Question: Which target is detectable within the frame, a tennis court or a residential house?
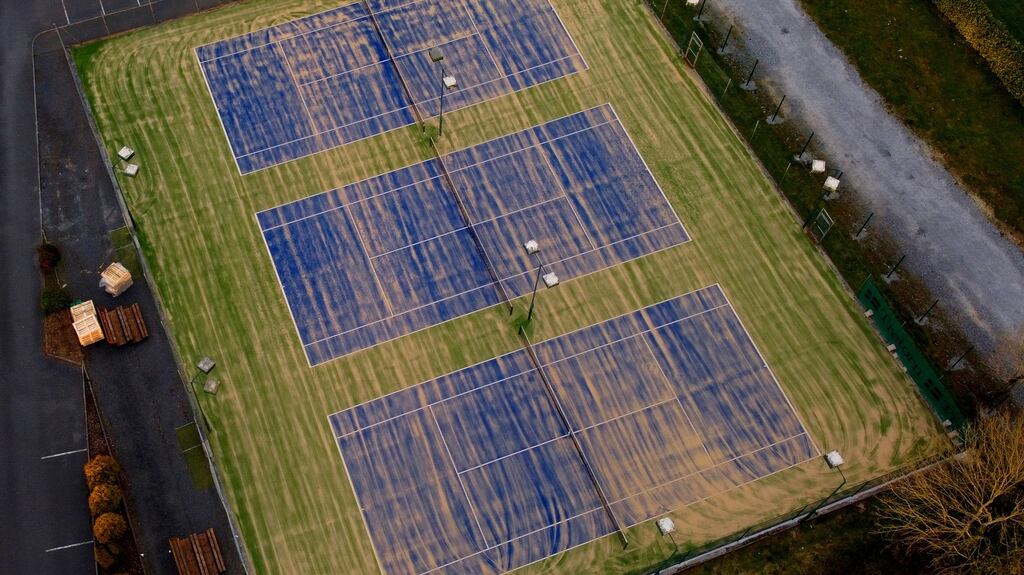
tennis court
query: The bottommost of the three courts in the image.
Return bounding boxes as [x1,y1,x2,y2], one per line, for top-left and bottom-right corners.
[329,283,819,575]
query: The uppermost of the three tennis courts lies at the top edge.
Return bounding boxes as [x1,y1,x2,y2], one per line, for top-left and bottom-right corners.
[197,0,587,174]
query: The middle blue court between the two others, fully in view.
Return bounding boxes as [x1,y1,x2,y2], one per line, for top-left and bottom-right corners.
[256,103,691,367]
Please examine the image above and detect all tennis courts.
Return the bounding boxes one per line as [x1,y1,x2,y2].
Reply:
[256,103,691,367]
[329,283,819,575]
[197,0,587,174]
